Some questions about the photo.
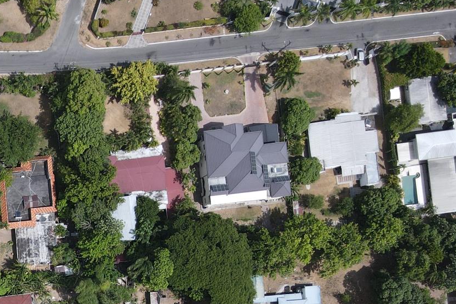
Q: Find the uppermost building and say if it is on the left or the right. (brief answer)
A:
right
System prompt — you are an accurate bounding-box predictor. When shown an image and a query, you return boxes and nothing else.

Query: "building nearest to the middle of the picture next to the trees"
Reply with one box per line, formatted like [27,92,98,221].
[196,123,291,210]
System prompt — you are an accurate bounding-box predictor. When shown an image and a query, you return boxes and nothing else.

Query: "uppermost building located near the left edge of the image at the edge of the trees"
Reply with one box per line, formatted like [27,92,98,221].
[0,156,57,265]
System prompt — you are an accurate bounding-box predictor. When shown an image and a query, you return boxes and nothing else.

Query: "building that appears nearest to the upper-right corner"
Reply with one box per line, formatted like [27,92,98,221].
[385,77,448,127]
